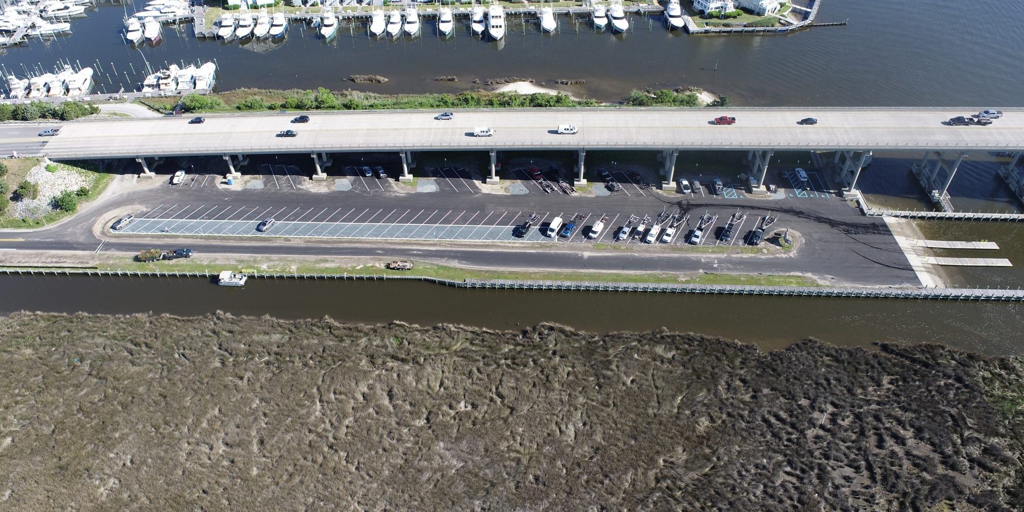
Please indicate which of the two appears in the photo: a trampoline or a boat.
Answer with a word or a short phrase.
boat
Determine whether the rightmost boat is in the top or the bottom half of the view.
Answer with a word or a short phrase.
top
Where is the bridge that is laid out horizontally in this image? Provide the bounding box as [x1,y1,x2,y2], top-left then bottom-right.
[33,106,1024,206]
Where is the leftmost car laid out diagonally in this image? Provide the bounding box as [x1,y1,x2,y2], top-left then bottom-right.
[111,212,135,230]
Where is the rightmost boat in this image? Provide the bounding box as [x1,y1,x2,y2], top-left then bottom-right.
[662,0,684,32]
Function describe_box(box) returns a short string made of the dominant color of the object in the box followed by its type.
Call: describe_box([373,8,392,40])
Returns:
white boat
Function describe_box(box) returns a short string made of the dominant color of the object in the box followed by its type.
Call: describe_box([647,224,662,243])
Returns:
white car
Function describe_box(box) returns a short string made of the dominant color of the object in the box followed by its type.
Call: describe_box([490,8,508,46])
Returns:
white boat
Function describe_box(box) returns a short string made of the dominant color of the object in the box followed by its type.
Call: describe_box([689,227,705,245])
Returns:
white vehicle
